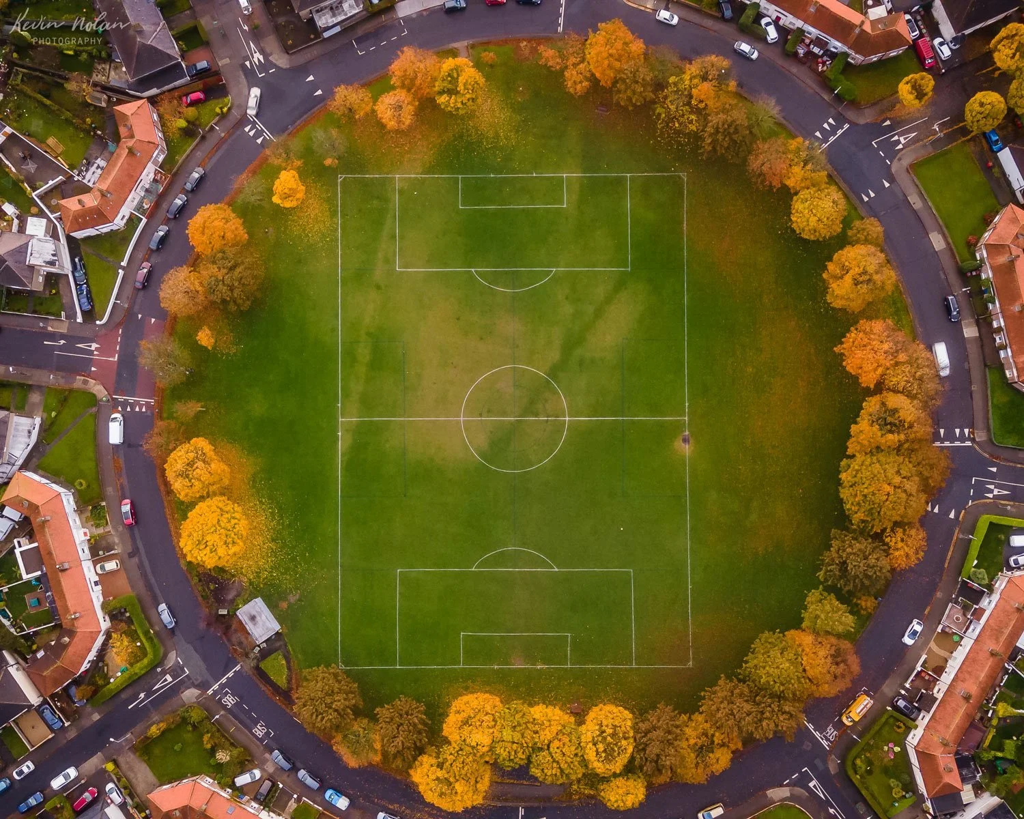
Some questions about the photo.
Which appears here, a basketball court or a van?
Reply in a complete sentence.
Of the two, only a van appears.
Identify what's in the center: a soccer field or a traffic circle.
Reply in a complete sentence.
The feature located in the center is a soccer field.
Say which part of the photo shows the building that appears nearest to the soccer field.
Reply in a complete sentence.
The building that appears nearest to the soccer field sits in the bottom left section of the image.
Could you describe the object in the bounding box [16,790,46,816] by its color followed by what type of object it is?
blue truck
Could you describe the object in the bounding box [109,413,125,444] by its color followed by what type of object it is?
white vehicle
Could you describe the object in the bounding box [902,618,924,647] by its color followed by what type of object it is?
white car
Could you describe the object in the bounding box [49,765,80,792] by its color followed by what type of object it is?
white car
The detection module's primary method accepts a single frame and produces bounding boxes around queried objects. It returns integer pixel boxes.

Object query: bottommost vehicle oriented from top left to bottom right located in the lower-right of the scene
[892,695,922,722]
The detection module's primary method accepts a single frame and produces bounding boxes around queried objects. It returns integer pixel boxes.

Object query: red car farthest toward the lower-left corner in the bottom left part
[73,785,100,813]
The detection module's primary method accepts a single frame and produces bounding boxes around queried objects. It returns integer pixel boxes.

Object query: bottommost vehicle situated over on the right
[694,799,726,819]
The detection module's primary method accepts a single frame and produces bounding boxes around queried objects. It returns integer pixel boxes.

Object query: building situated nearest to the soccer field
[236,596,284,644]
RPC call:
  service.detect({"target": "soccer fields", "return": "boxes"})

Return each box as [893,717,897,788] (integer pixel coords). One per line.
[338,172,692,668]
